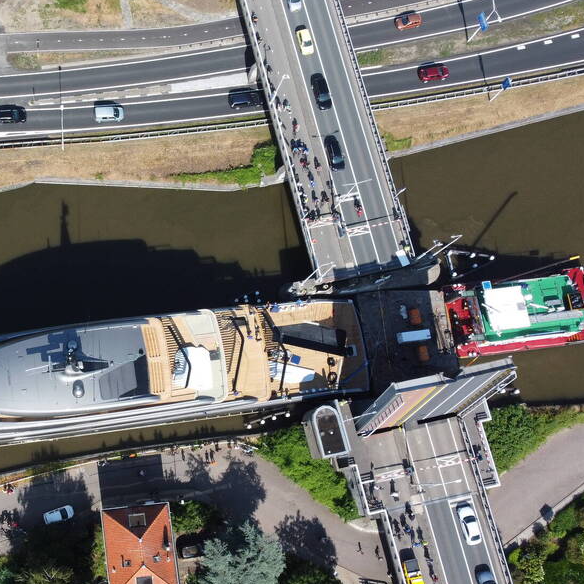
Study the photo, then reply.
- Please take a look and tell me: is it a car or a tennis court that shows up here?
car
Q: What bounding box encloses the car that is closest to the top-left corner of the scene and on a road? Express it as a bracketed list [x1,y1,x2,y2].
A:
[0,104,26,122]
